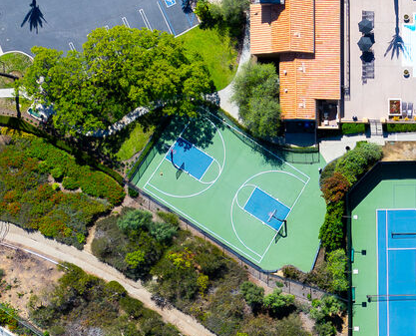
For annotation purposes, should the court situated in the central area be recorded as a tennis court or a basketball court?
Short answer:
basketball court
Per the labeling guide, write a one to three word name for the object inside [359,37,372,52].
umbrella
